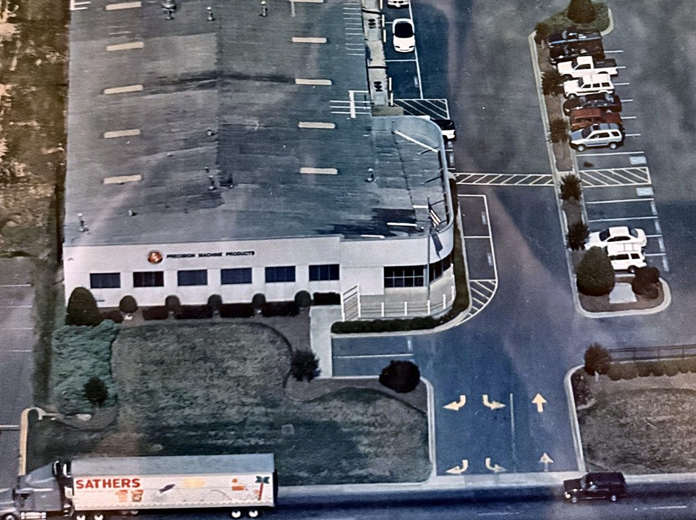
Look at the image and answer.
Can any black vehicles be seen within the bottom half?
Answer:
Yes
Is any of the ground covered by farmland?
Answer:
No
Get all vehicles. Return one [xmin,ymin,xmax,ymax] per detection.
[413,115,455,139]
[562,466,626,502]
[0,457,104,518]
[567,108,622,133]
[605,245,646,271]
[568,124,623,151]
[585,228,647,250]
[562,73,615,99]
[555,58,617,82]
[390,21,413,49]
[561,94,621,114]
[546,27,601,49]
[548,40,604,66]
